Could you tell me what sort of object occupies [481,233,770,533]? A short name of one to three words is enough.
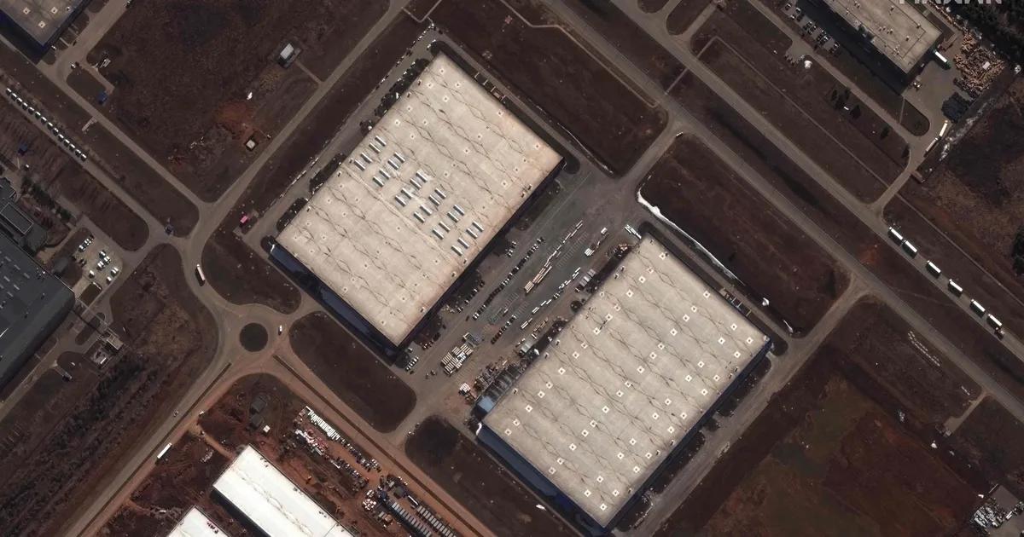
warehouse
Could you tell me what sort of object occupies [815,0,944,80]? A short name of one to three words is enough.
building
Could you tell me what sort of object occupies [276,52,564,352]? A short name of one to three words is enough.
warehouse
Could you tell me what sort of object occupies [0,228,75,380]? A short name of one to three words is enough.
building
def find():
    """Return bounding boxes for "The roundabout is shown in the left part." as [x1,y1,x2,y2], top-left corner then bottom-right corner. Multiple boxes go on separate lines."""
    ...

[230,314,277,361]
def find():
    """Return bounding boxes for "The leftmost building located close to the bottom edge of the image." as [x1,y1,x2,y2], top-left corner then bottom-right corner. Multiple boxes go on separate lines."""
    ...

[165,506,228,537]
